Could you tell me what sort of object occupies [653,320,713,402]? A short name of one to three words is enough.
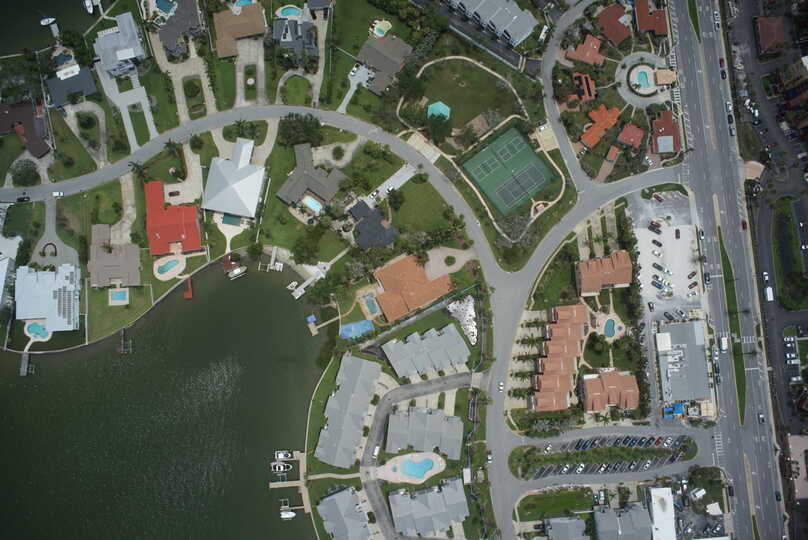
building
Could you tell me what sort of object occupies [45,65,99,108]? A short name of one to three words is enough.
house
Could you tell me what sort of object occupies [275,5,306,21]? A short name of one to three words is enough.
swimming pool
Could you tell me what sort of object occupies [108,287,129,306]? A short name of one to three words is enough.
swimming pool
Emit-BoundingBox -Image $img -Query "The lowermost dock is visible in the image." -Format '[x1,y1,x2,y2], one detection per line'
[269,450,311,513]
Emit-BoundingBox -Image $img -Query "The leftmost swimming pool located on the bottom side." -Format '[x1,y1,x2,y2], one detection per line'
[24,319,52,341]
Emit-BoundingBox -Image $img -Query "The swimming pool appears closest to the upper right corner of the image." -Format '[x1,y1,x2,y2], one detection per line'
[629,63,656,91]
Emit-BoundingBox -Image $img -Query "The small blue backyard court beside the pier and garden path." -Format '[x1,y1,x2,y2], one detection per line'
[341,321,375,339]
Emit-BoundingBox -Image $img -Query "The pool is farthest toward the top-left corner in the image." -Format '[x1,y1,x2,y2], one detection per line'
[52,47,74,69]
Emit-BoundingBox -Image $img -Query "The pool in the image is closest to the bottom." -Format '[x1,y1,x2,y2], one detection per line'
[376,454,445,483]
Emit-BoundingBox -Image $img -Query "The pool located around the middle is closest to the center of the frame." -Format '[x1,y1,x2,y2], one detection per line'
[357,283,383,321]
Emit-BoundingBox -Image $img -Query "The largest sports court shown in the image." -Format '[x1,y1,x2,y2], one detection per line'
[462,126,557,216]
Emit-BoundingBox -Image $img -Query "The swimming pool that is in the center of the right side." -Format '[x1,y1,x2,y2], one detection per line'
[597,312,626,340]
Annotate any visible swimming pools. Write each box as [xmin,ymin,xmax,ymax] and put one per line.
[357,283,383,321]
[296,190,324,224]
[144,0,176,25]
[275,5,306,21]
[108,287,129,306]
[213,212,247,241]
[52,47,74,69]
[24,319,52,341]
[376,454,445,483]
[153,256,186,280]
[597,312,626,340]
[370,19,391,37]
